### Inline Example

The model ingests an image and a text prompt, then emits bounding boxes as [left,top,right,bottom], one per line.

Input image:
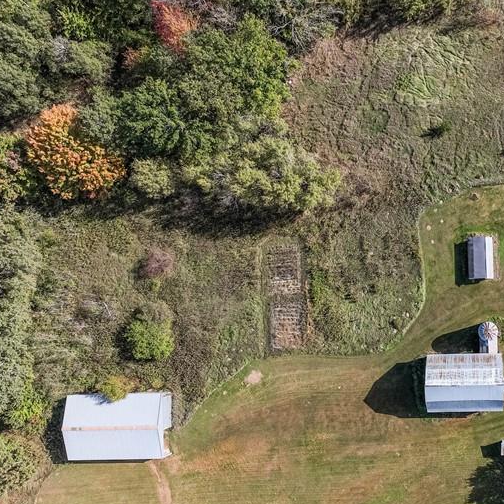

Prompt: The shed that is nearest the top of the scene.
[468,236,494,280]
